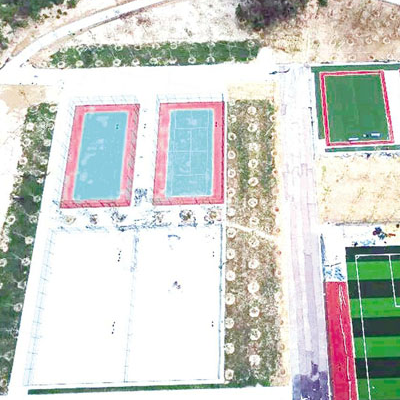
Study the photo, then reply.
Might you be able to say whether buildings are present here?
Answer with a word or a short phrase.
No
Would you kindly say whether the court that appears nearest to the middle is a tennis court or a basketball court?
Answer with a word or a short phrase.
tennis court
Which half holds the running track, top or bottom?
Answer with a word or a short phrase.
bottom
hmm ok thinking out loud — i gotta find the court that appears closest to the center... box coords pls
[153,101,224,206]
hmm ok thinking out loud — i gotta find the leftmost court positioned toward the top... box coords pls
[60,104,139,209]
